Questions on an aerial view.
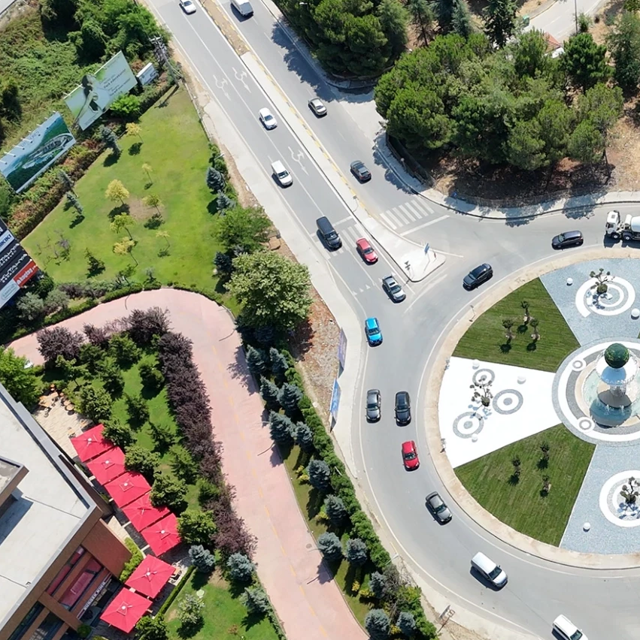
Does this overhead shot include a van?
Yes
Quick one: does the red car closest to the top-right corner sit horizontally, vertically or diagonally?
diagonally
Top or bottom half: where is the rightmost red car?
bottom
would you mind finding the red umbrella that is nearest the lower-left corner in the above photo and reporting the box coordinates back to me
[100,586,152,633]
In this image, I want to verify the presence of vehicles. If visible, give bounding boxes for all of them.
[462,262,495,290]
[315,215,343,249]
[364,316,383,349]
[364,389,382,425]
[551,230,584,250]
[400,438,421,473]
[270,159,293,187]
[258,107,278,130]
[466,547,512,592]
[233,0,252,17]
[308,98,328,118]
[351,162,371,184]
[548,613,590,640]
[354,237,378,265]
[393,390,412,427]
[180,0,195,12]
[421,489,456,528]
[379,274,407,303]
